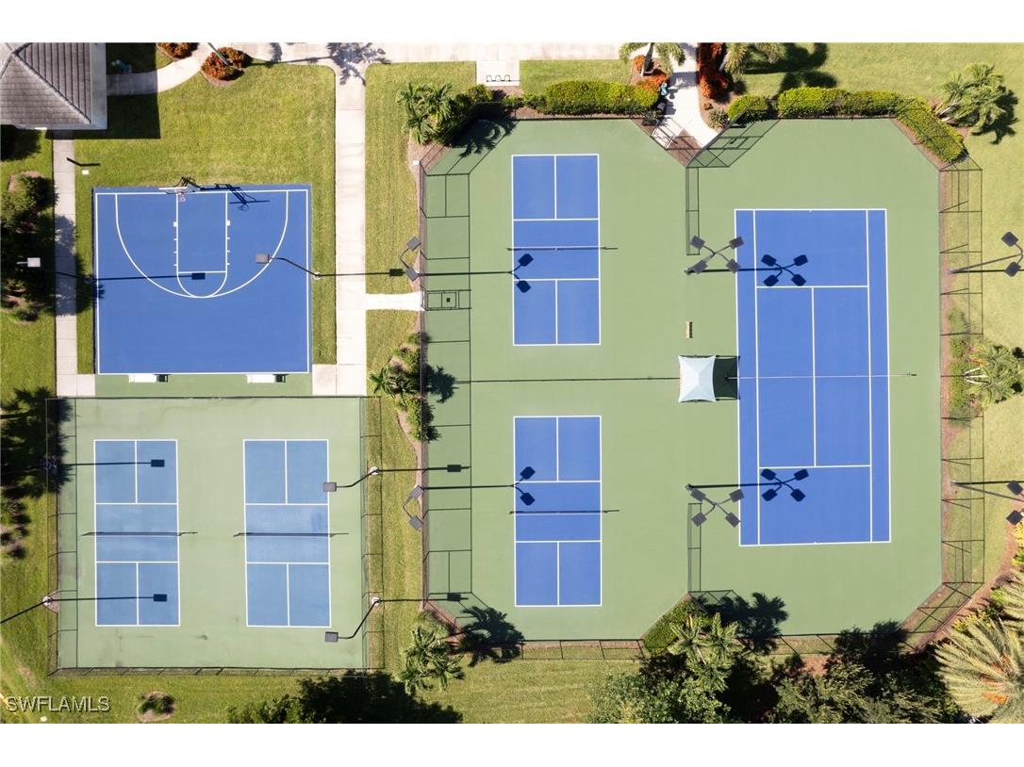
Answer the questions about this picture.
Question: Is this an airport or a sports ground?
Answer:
sports ground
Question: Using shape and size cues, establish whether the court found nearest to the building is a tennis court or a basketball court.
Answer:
basketball court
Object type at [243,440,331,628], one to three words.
sports court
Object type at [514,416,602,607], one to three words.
sports court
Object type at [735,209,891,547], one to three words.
tennis court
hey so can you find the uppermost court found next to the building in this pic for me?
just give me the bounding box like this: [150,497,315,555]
[93,185,312,374]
